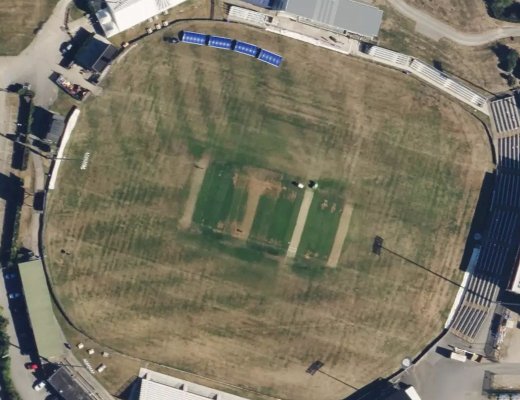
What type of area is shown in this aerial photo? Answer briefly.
sports ground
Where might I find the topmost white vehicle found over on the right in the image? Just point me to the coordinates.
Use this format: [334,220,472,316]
[447,351,470,363]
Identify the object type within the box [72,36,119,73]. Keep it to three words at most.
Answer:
building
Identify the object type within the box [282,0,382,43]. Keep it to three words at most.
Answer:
building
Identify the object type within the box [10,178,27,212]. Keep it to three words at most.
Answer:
house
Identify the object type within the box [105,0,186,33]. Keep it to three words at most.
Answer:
tent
